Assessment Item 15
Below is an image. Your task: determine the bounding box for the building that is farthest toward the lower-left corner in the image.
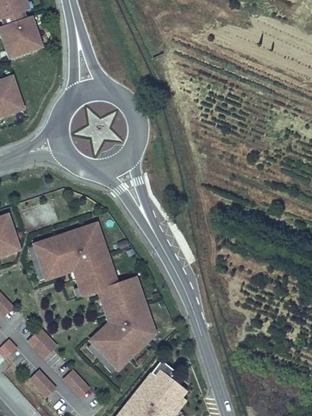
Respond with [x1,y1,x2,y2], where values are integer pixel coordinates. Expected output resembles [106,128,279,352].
[29,369,56,398]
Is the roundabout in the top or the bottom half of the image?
top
